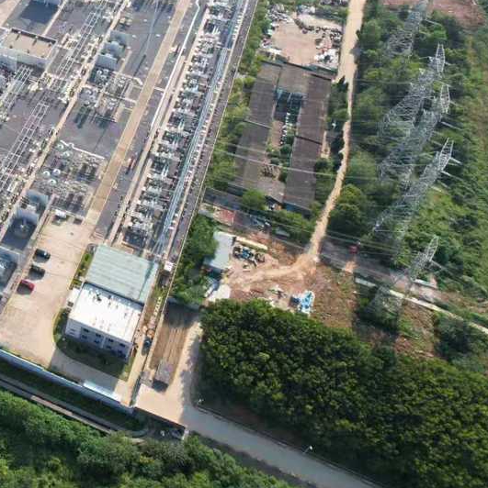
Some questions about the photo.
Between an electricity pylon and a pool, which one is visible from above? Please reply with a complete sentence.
Of the two, only an electricity pylon appears.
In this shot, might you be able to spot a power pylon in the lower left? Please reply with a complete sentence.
No, no power pylon is visible in the lower left.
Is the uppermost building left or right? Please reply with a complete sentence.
The uppermost building is on the left side of the image.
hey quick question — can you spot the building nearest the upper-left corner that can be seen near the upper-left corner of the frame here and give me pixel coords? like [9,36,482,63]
[0,16,62,64]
